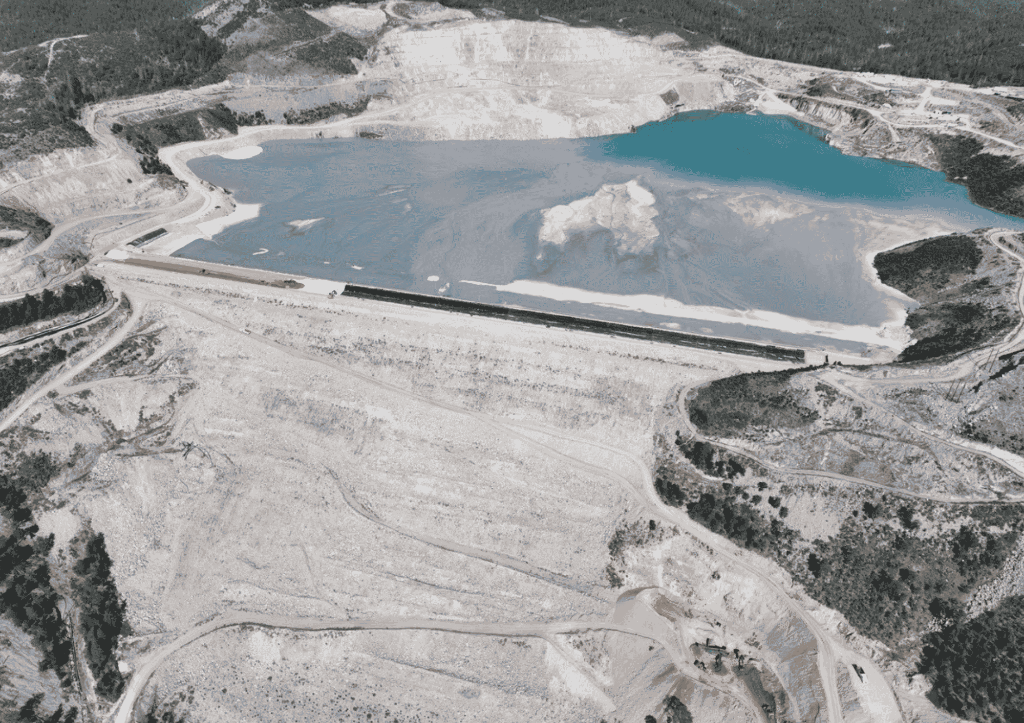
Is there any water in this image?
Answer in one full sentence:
Yes, there's water in this view.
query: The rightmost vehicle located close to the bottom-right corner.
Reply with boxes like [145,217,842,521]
[854,662,869,683]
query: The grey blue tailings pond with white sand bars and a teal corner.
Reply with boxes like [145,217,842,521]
[162,111,1024,357]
